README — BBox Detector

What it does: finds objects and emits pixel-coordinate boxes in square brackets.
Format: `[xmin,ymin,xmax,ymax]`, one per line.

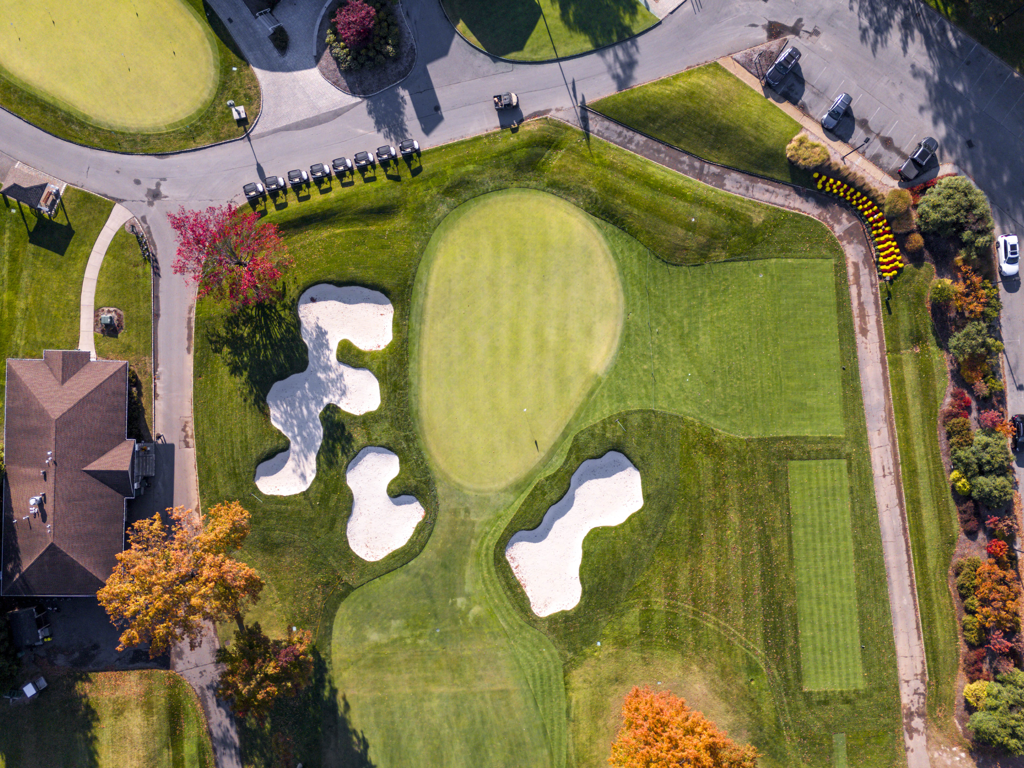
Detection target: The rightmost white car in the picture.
[994,235,1022,278]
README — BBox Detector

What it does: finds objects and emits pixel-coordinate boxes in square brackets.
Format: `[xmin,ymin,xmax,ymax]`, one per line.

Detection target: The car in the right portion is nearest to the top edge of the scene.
[764,43,804,86]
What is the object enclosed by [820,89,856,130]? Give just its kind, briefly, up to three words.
car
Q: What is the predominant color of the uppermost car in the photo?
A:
black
